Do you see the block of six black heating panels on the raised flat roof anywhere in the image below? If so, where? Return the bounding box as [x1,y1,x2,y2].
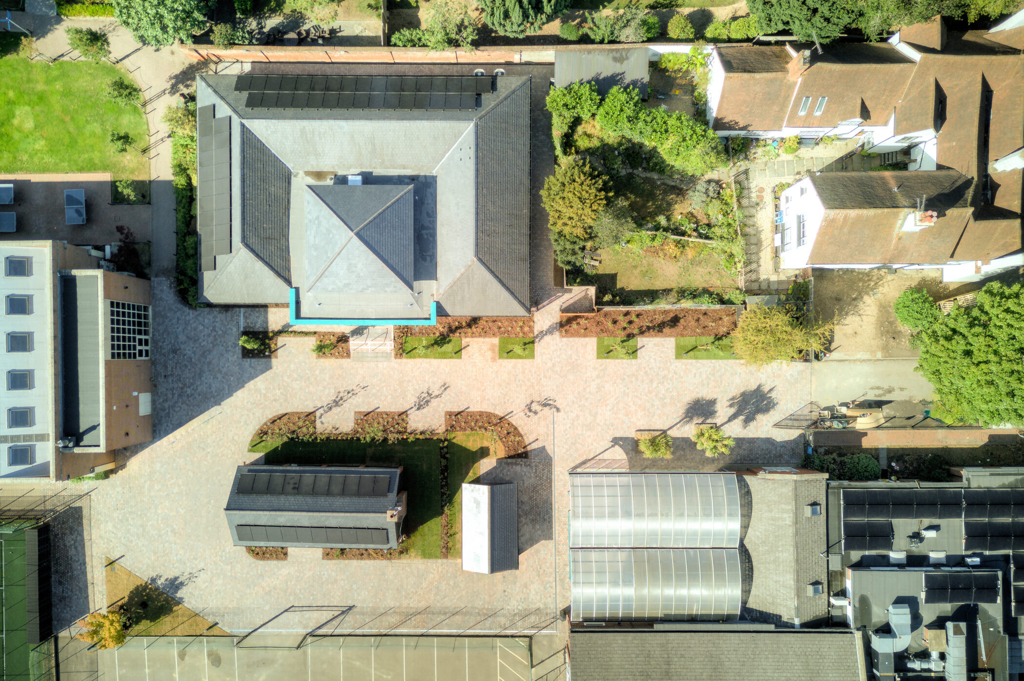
[921,572,999,608]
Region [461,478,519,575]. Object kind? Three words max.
shed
